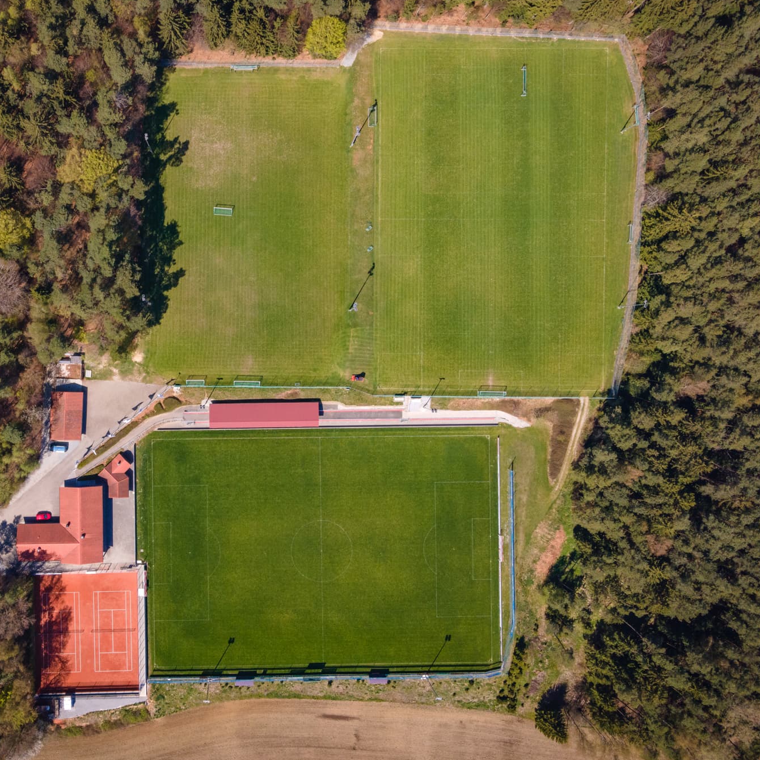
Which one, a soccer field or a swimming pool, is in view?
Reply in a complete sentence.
I can see a soccer field in this picture.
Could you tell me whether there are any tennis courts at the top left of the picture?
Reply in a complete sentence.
No, I see no tennis court at the top left of the picture.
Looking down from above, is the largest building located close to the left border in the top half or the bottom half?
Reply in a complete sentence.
The largest building located close to the left border sits in the bottom half of the picture.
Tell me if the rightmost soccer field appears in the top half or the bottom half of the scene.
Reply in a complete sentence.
Seen from above, the rightmost soccer field lies in the top half of the view.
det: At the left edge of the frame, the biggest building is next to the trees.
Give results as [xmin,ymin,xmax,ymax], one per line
[17,485,103,565]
